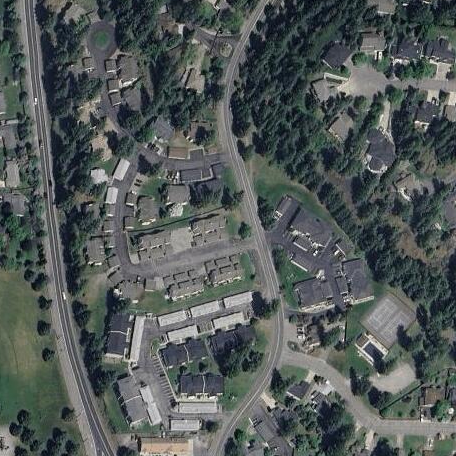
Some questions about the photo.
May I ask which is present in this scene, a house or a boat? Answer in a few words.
house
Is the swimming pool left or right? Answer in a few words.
right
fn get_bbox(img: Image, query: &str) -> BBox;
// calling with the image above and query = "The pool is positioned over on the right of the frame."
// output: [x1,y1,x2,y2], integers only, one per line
[357,337,389,363]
